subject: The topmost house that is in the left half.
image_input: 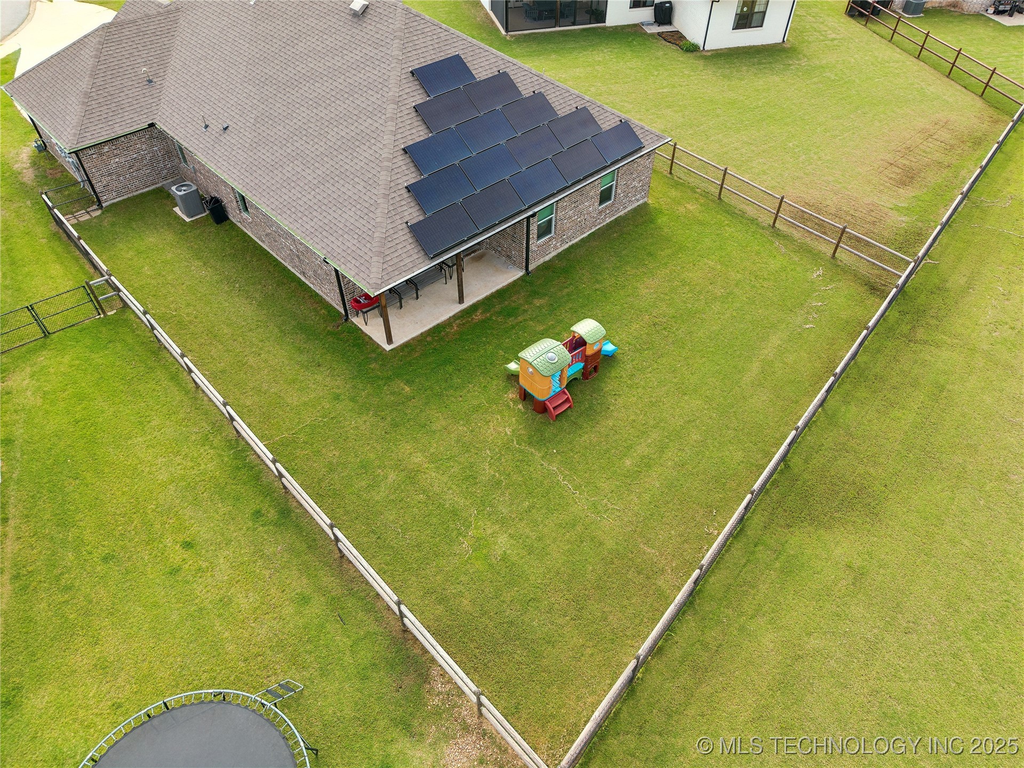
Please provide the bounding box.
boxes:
[1,0,670,348]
